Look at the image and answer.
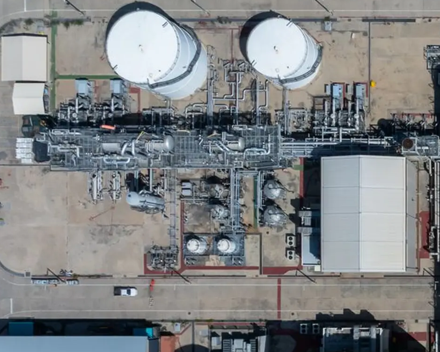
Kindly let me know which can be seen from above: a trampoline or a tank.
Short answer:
tank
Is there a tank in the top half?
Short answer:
Yes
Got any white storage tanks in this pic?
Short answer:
Yes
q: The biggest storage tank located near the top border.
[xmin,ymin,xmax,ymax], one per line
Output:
[105,11,207,102]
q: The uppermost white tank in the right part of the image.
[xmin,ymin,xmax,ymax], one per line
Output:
[246,16,324,94]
